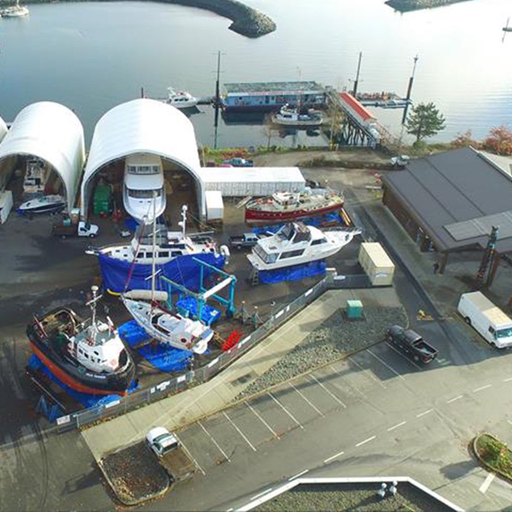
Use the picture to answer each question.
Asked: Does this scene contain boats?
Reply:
Yes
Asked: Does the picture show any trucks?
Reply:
Yes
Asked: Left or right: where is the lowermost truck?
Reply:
left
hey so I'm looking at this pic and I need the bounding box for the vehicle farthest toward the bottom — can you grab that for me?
[144,428,193,479]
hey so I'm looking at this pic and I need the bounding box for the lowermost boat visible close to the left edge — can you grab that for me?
[19,294,142,392]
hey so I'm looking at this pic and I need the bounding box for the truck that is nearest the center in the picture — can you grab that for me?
[228,230,268,253]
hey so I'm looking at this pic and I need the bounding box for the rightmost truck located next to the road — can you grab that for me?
[459,294,512,358]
